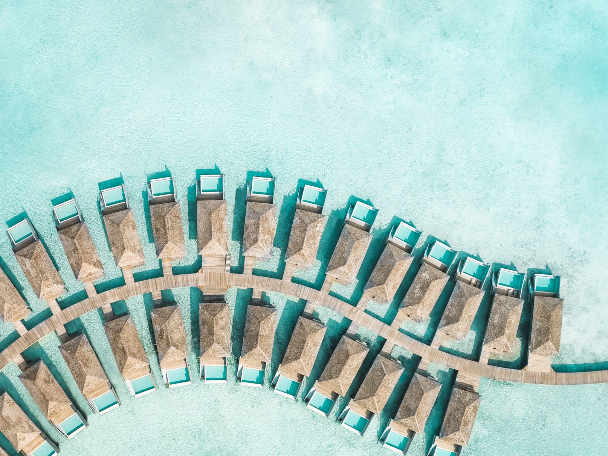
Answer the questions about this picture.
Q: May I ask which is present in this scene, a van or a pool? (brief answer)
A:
pool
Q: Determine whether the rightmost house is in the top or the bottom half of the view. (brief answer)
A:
bottom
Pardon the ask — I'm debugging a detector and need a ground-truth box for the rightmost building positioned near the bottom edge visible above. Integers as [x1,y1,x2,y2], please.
[427,382,482,456]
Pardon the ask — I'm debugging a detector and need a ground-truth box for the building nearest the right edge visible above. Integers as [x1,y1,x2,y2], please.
[526,273,563,357]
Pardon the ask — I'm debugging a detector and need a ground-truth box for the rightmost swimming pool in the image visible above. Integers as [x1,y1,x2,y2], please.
[531,271,557,292]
